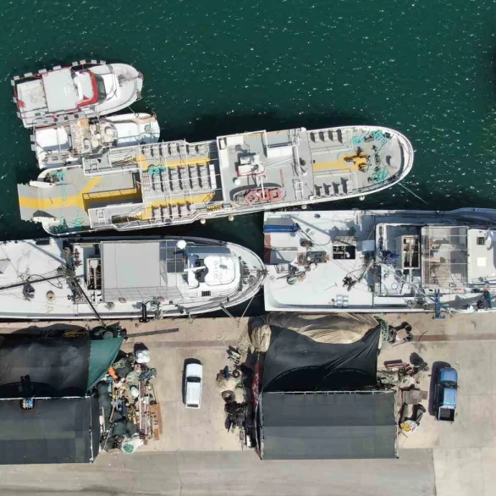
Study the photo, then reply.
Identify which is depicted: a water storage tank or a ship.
ship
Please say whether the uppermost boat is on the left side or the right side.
left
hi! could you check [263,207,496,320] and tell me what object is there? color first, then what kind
white boat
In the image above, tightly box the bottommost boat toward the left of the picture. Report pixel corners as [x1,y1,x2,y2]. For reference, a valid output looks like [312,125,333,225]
[0,237,270,325]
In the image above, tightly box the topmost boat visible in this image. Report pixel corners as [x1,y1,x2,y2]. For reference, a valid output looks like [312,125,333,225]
[11,60,143,130]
